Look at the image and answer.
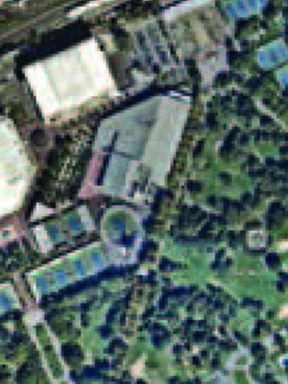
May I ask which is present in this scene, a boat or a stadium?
stadium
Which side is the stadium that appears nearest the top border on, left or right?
left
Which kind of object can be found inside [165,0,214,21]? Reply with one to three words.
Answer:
building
